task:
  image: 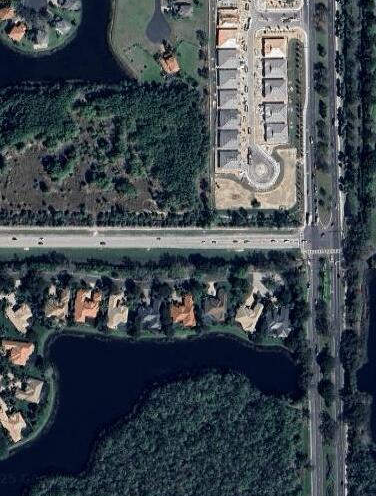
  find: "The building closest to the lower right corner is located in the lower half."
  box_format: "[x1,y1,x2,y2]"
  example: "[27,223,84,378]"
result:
[267,305,292,339]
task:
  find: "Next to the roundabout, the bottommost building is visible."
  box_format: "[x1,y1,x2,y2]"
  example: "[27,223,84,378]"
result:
[218,150,239,169]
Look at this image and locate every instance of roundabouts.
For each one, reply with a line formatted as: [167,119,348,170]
[245,144,280,187]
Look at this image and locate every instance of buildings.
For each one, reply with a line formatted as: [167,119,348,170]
[219,130,238,148]
[0,407,27,443]
[218,50,237,67]
[264,80,286,98]
[265,103,287,121]
[218,9,238,28]
[45,289,70,321]
[136,304,162,336]
[218,150,239,169]
[73,290,100,326]
[1,340,38,362]
[160,51,183,75]
[218,70,237,88]
[233,297,263,335]
[267,305,292,339]
[264,60,286,77]
[265,124,287,142]
[2,305,34,337]
[7,20,27,43]
[19,375,47,404]
[0,6,15,20]
[218,30,237,48]
[106,294,129,332]
[53,16,74,36]
[219,90,238,108]
[264,39,286,57]
[218,110,238,128]
[61,0,85,10]
[169,297,195,331]
[33,29,50,46]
